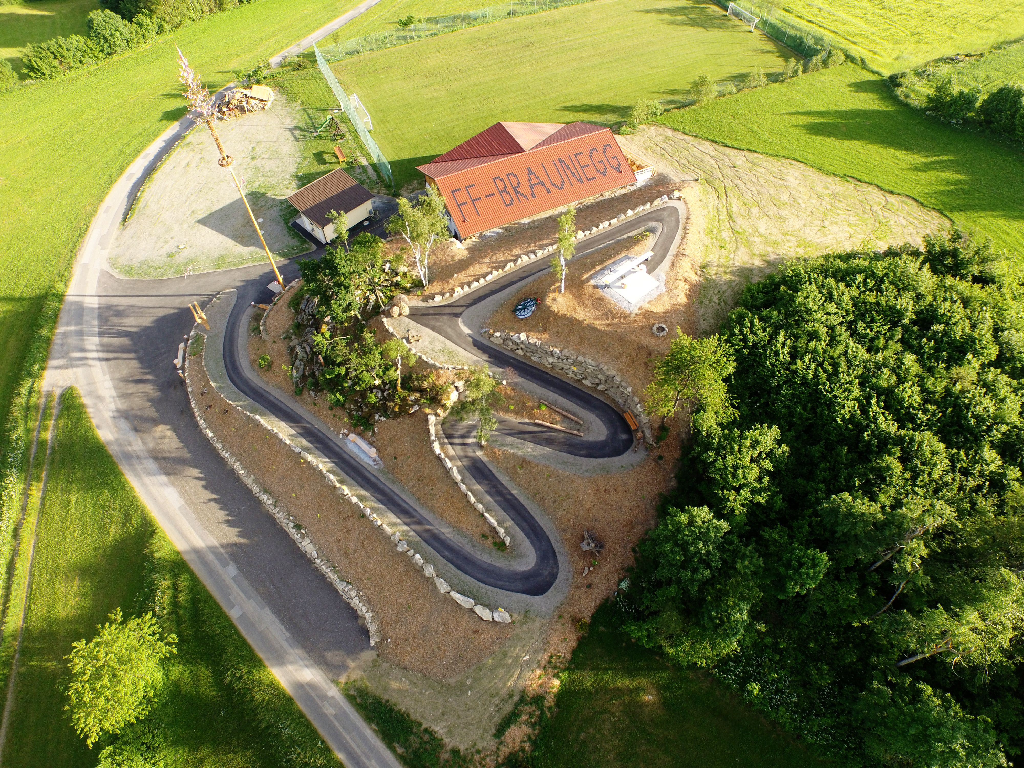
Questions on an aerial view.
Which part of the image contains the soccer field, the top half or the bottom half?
top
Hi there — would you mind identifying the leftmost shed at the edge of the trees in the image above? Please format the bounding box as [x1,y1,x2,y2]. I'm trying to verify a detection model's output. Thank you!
[287,167,376,239]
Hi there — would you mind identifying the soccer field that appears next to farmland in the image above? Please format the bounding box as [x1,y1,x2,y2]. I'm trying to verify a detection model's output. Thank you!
[330,0,803,195]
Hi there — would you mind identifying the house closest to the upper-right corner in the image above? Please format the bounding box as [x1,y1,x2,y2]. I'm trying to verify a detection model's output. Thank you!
[412,119,637,241]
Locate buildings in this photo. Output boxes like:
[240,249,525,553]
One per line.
[287,167,376,239]
[412,119,637,241]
